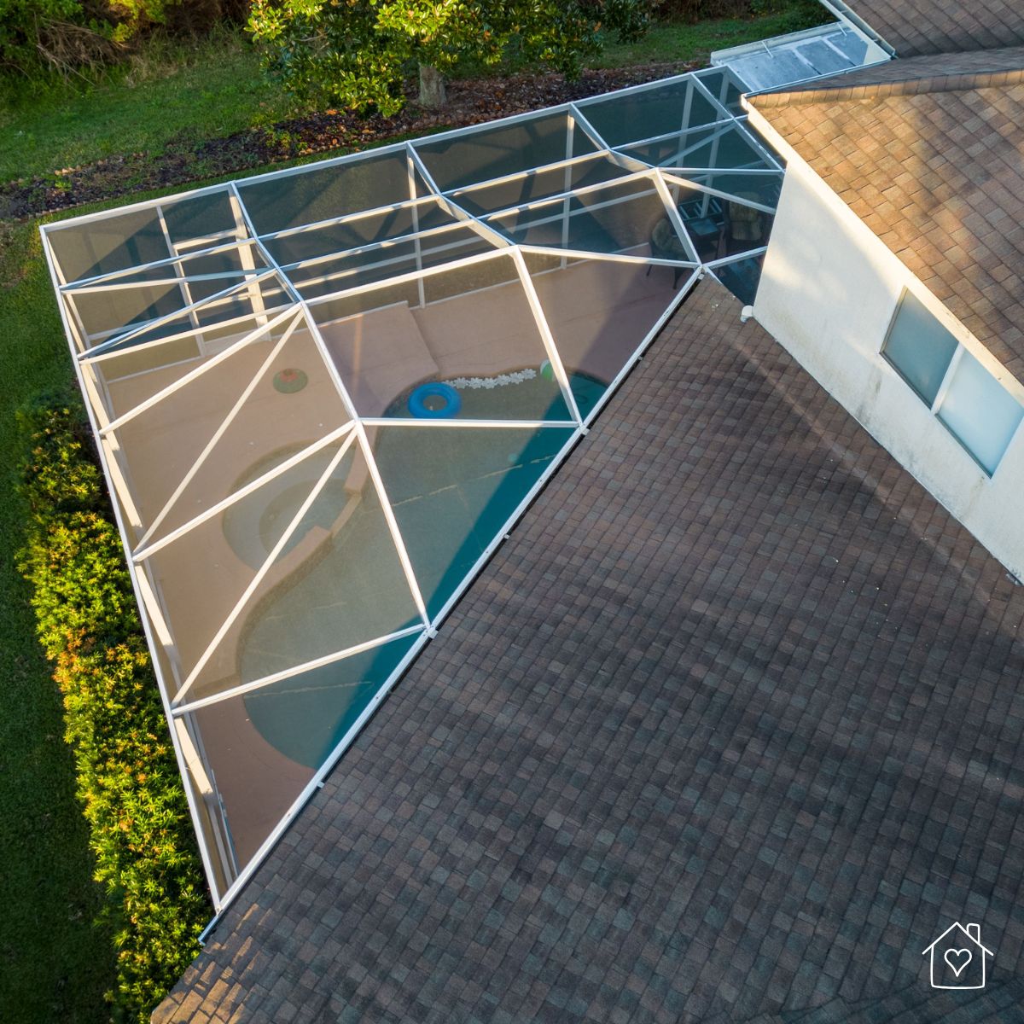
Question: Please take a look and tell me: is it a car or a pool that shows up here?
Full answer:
The one in the frame is a pool.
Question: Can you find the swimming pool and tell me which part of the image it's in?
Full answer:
The swimming pool appears toward the center of the photo.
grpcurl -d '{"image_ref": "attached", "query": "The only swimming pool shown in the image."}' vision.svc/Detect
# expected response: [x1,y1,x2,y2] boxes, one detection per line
[222,370,606,771]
